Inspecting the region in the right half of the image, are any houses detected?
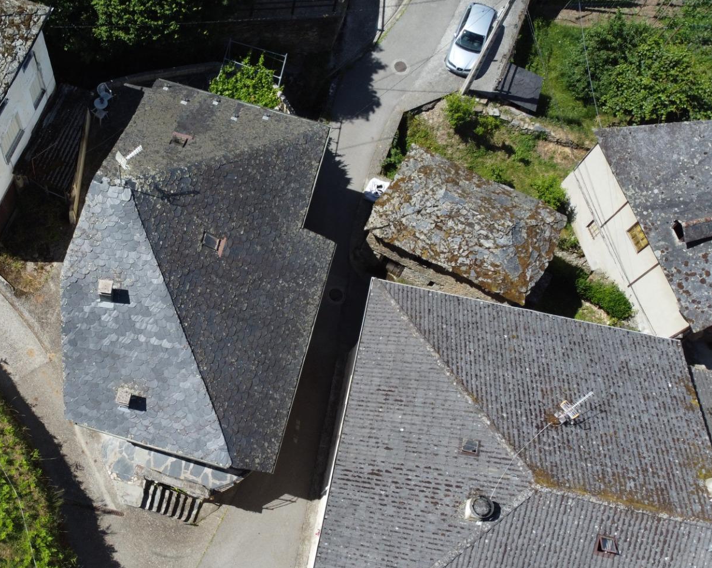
Yes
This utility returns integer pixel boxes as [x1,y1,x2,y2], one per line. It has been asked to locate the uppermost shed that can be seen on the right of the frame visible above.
[493,63,543,110]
